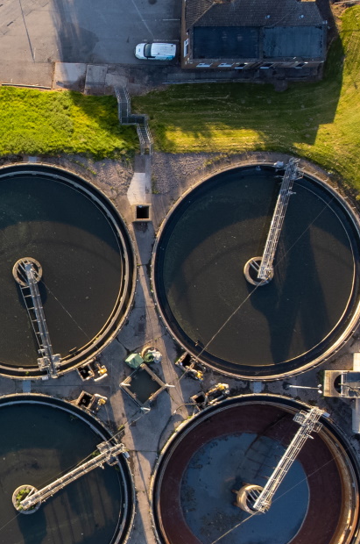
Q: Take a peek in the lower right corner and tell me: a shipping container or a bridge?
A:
bridge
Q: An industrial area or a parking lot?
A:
industrial area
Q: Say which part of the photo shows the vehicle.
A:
top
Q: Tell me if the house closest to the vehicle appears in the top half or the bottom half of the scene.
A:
top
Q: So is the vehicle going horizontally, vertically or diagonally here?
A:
horizontally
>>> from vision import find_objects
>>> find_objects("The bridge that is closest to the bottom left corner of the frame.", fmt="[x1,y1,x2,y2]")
[14,440,133,514]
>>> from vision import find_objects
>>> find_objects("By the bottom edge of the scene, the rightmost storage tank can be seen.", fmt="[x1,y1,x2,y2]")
[150,393,360,544]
